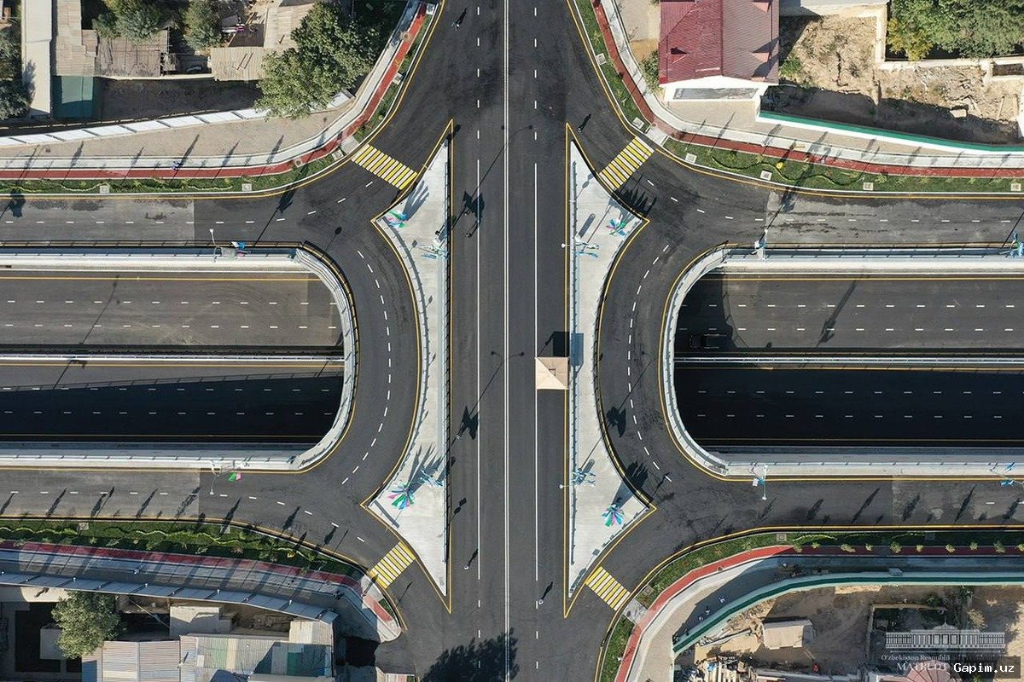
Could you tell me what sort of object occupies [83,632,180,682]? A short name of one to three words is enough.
building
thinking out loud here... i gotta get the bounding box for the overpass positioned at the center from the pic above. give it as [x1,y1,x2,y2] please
[300,246,726,475]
